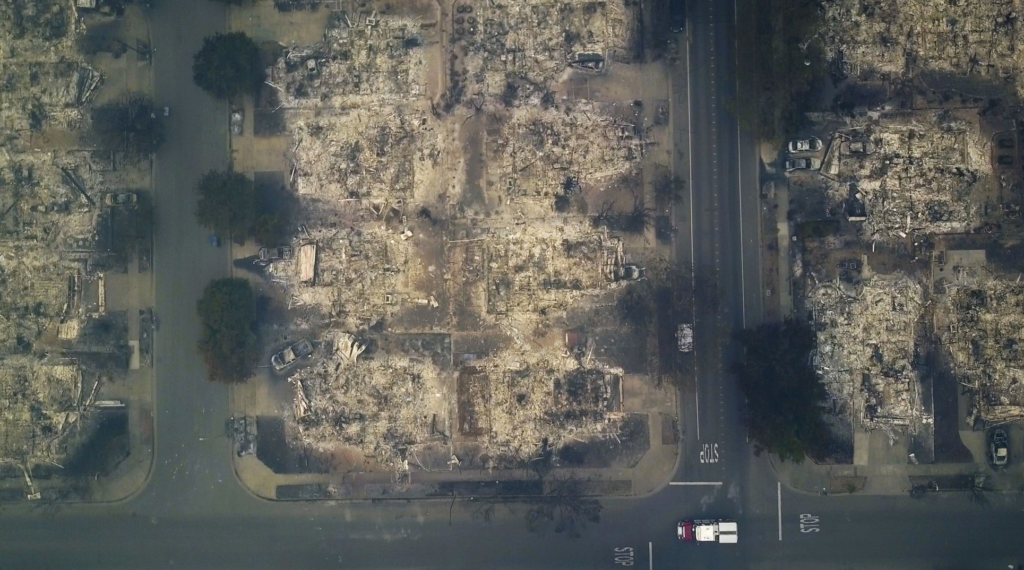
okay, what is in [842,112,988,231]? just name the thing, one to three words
house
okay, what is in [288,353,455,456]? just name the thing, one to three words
house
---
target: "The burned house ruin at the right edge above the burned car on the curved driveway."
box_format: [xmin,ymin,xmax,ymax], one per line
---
[953,277,1024,420]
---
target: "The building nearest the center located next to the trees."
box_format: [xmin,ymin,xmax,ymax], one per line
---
[477,221,626,320]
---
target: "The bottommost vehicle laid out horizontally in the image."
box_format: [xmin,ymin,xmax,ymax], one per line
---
[677,520,741,547]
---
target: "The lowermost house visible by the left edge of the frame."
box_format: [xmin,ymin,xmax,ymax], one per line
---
[0,360,86,469]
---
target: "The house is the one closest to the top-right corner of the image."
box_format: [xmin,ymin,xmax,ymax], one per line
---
[910,0,1024,73]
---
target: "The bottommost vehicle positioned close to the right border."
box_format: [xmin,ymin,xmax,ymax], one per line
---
[993,429,1011,470]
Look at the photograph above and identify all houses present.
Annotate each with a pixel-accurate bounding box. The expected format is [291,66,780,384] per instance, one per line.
[288,103,444,199]
[910,0,1024,73]
[953,277,1024,420]
[476,0,635,104]
[477,221,626,320]
[0,243,85,342]
[842,112,988,231]
[288,353,455,456]
[267,8,432,107]
[490,102,646,202]
[265,220,419,325]
[0,360,86,469]
[0,152,102,245]
[814,275,930,425]
[483,354,626,458]
[0,0,82,61]
[825,0,913,75]
[0,61,94,153]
